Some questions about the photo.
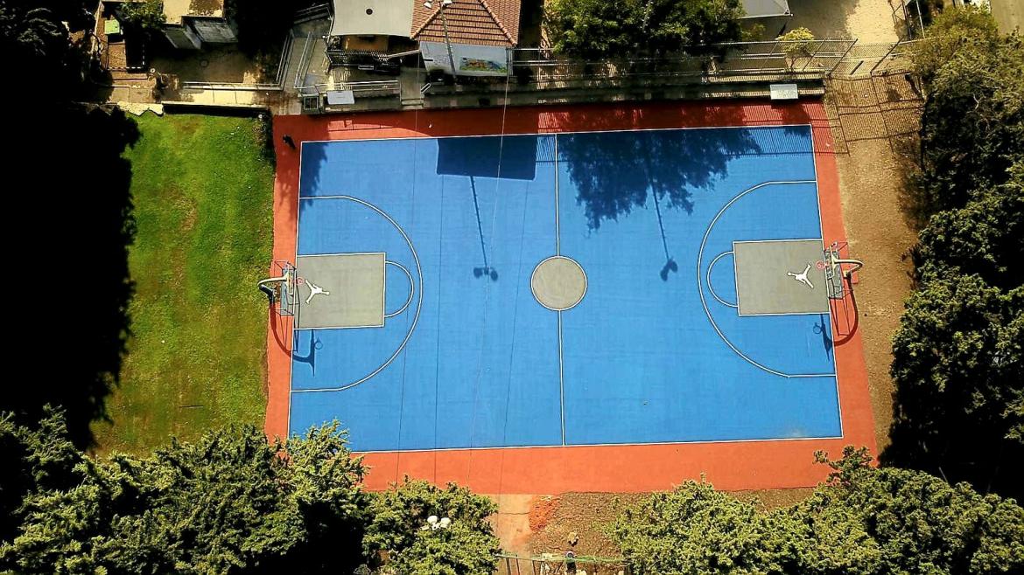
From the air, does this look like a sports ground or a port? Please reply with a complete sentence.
The area seen from above is a sports ground.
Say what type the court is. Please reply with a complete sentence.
I'd say the court is a basketball court.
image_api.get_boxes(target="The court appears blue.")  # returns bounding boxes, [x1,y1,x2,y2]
[263,99,877,499]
